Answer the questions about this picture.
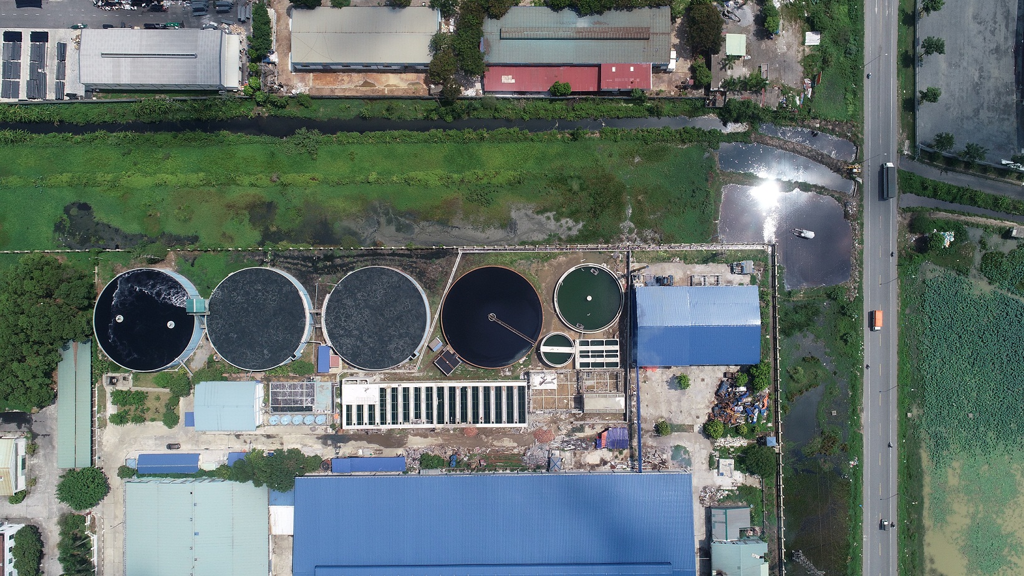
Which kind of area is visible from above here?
industrial area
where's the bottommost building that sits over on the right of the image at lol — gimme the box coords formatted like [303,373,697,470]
[706,538,767,576]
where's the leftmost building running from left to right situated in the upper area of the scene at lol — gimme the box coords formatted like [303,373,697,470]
[75,29,227,89]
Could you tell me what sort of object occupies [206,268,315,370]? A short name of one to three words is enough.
storage tank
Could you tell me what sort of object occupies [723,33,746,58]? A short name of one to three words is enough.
shed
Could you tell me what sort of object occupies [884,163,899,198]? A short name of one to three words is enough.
vehicle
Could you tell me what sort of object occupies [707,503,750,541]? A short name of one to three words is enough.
building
